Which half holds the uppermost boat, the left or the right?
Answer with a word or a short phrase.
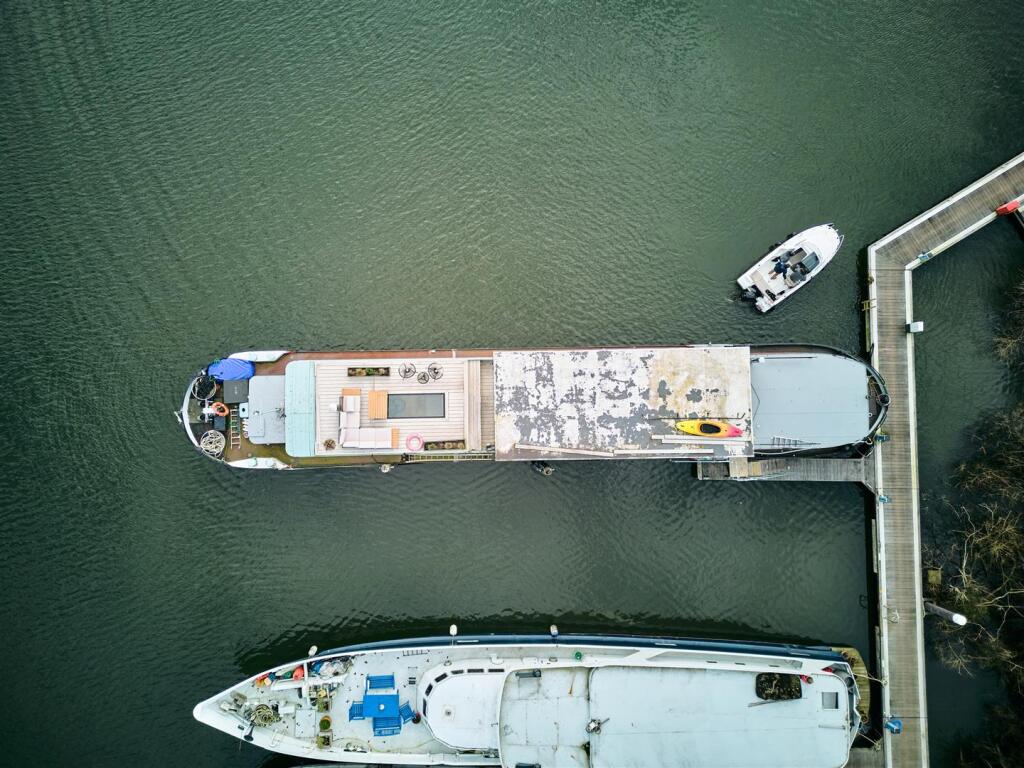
right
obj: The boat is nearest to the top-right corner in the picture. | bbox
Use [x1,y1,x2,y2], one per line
[737,227,845,314]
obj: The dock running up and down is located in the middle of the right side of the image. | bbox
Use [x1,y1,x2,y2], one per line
[864,153,1024,768]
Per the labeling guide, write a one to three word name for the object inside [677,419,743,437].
boat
